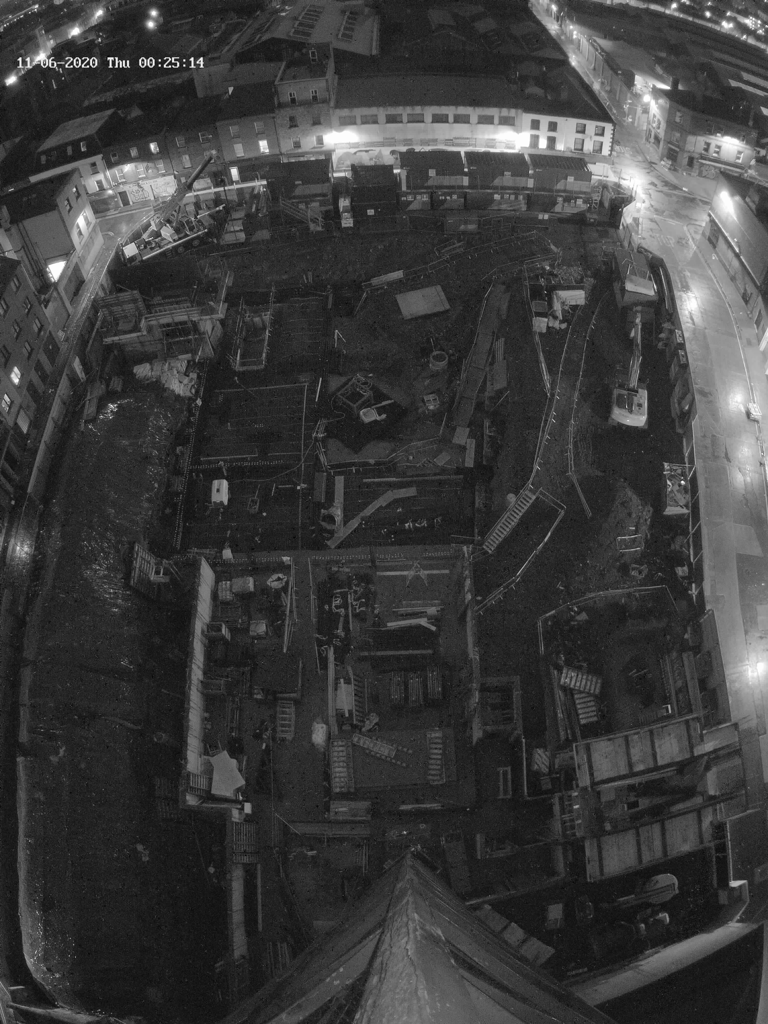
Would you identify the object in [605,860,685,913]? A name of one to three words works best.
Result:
work vehicle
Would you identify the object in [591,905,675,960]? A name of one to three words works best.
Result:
truck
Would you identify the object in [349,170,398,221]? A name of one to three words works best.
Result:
building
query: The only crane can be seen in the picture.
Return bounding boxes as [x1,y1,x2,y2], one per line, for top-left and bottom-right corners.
[103,144,234,278]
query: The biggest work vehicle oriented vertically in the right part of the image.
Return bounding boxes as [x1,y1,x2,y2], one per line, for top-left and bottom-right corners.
[607,307,650,437]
